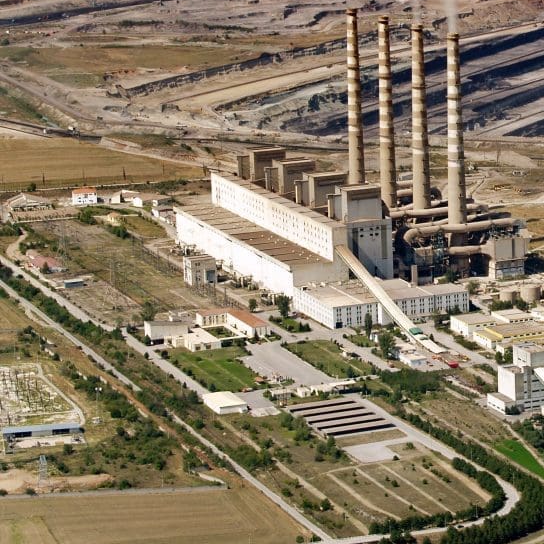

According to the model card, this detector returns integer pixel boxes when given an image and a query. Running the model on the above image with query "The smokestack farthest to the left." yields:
[348,11,364,184]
